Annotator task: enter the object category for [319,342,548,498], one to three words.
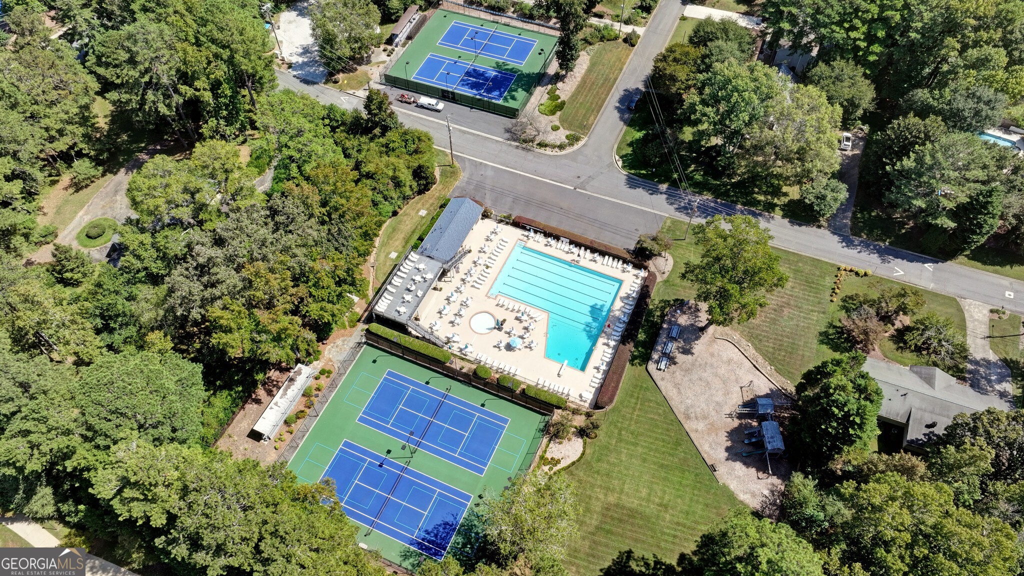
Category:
tennis court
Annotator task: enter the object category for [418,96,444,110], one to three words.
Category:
vehicle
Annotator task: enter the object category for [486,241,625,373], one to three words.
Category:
swimming pool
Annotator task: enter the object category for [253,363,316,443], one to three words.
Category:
building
